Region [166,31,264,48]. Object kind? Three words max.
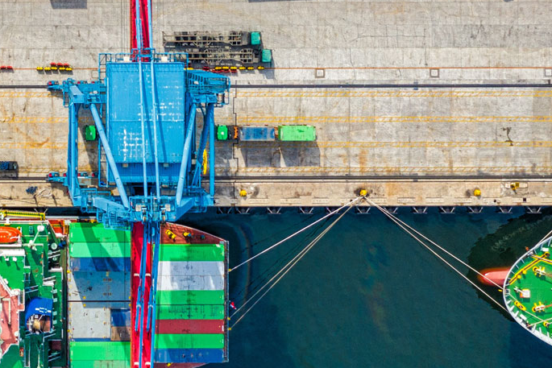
vehicle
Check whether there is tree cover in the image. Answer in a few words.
No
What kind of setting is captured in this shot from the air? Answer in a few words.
port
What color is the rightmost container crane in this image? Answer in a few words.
blue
